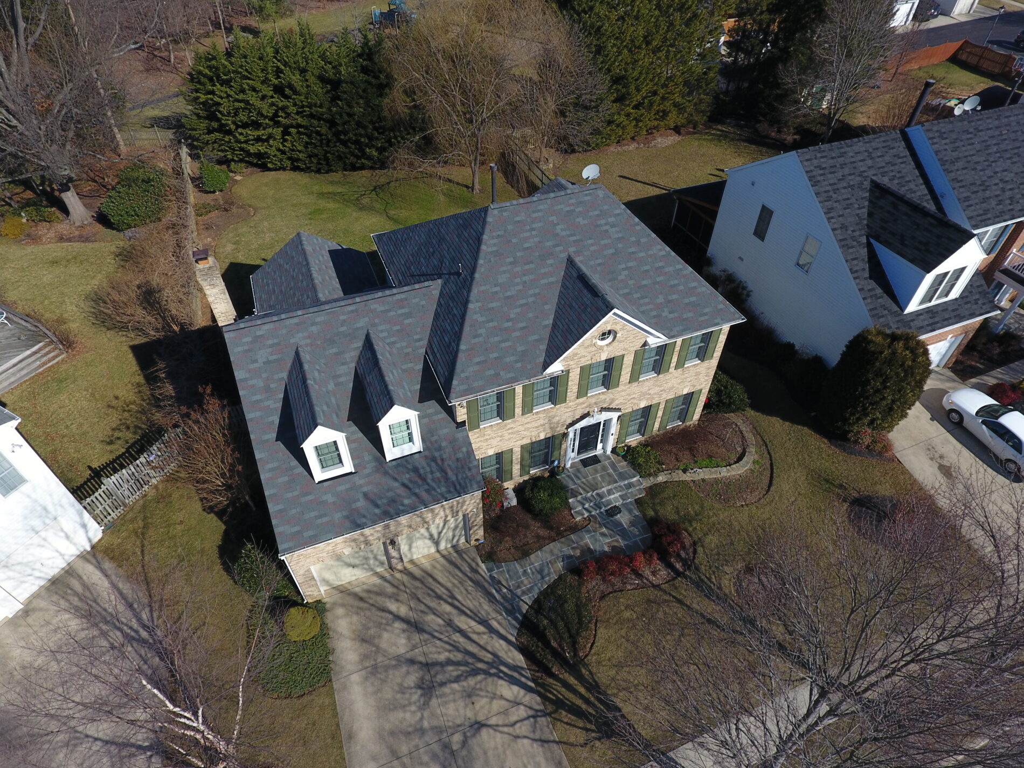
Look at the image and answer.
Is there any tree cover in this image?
Yes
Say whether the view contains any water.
No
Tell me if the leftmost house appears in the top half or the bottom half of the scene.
bottom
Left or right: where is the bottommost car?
right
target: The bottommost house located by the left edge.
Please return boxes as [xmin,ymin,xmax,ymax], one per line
[0,403,116,617]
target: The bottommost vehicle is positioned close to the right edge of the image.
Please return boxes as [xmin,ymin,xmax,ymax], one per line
[947,395,1024,469]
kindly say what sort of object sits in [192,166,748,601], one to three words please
house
